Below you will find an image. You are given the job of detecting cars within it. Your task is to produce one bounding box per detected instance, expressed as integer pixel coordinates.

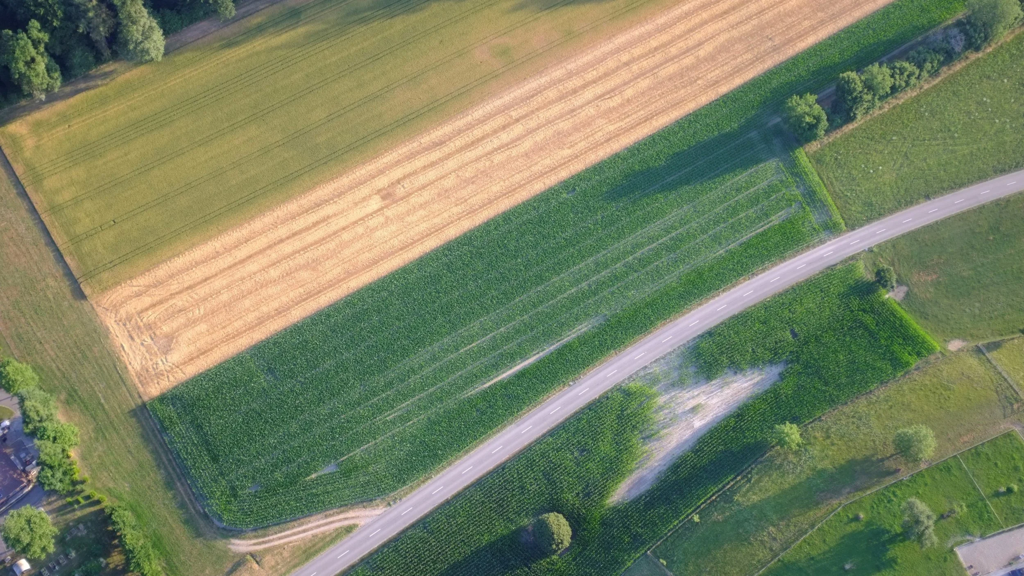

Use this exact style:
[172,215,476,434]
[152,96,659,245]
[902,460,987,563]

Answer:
[0,426,9,438]
[0,415,11,428]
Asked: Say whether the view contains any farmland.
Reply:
Yes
